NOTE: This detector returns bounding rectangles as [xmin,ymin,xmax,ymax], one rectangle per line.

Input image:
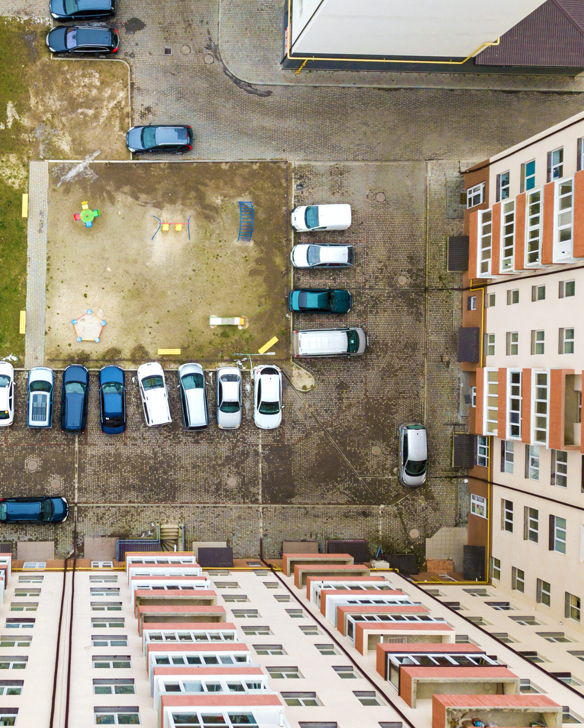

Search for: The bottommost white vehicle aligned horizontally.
[289,326,365,360]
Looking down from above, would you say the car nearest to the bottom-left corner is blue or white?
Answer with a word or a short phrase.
blue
